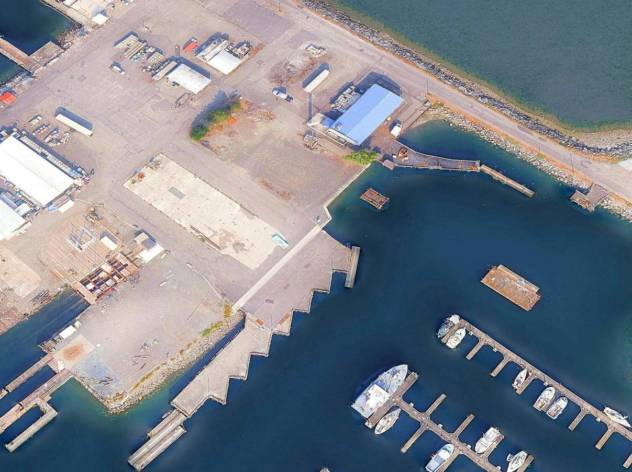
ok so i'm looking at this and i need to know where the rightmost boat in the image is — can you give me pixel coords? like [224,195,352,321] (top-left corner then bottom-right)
[603,407,631,428]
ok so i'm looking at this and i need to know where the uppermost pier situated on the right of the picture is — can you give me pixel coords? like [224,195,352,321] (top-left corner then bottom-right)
[376,140,479,172]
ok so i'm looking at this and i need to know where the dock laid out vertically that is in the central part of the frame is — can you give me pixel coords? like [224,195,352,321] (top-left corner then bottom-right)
[345,246,361,288]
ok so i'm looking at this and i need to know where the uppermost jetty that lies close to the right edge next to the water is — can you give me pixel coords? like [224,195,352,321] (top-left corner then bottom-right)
[570,184,610,211]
